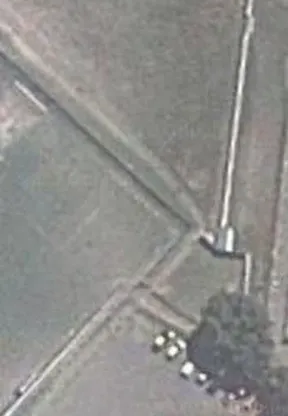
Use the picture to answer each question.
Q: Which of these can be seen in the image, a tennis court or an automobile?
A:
automobile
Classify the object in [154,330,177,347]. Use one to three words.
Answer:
car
